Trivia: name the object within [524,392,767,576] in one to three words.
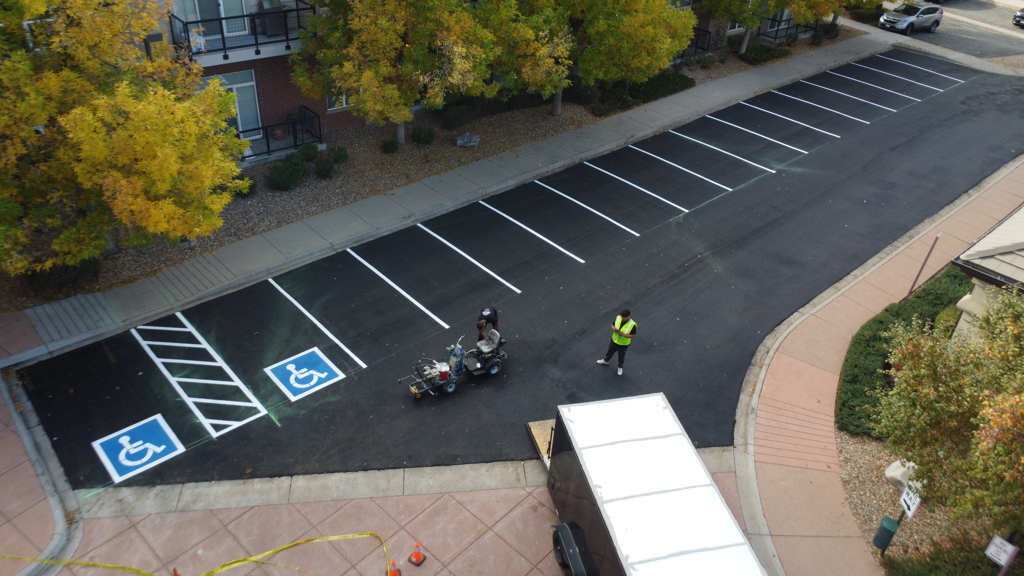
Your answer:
trailer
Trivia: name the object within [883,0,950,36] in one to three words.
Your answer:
car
